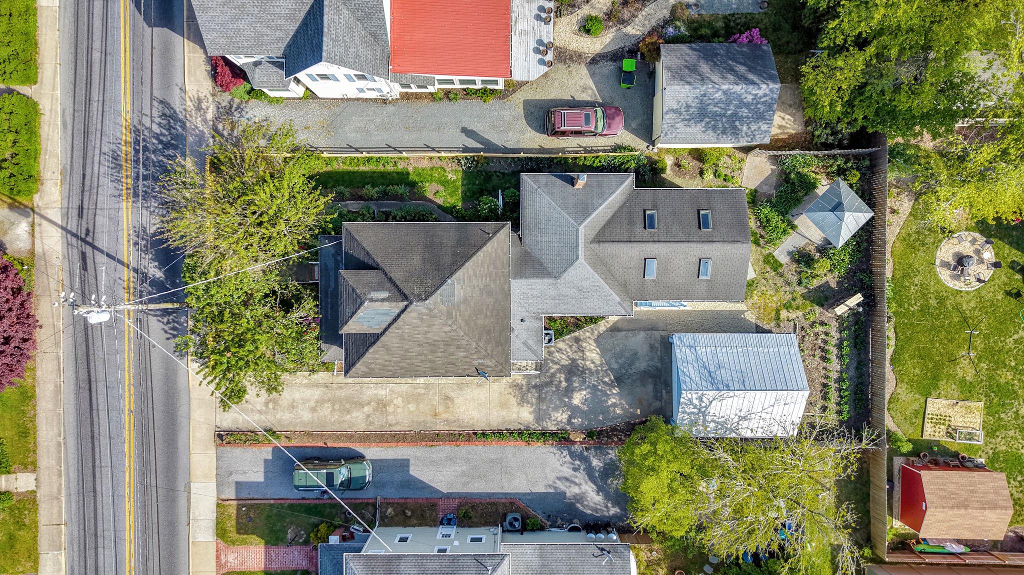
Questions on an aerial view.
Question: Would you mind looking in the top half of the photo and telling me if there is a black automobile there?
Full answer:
No, there's no black automobile to be seen in the top half of the photo.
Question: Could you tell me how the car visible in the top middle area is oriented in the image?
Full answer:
The car visible in the top middle area is laid out horizontally.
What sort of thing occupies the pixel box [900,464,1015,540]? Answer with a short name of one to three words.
shed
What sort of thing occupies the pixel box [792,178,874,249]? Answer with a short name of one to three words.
gazebo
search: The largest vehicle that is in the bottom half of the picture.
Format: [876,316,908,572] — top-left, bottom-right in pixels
[294,453,374,493]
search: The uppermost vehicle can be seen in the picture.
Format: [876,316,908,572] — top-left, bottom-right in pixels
[544,103,624,141]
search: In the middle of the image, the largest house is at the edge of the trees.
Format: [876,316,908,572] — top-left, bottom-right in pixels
[311,171,750,379]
